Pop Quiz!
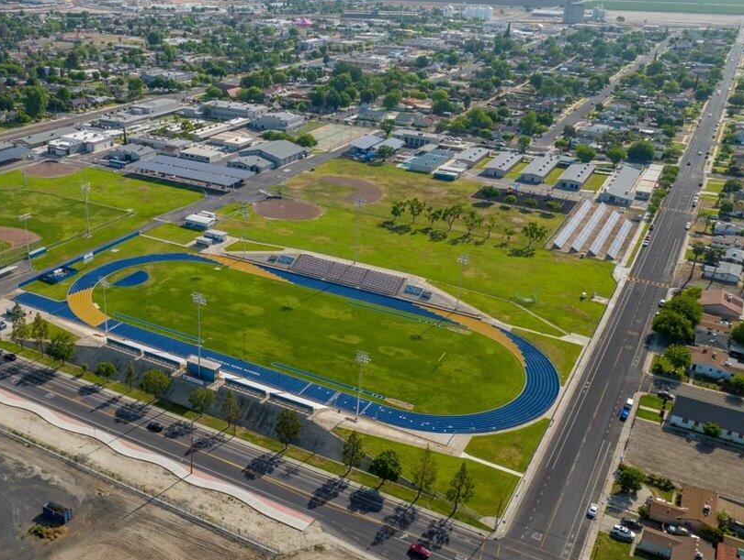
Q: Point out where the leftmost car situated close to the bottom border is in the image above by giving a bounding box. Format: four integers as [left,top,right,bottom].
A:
[406,541,431,559]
